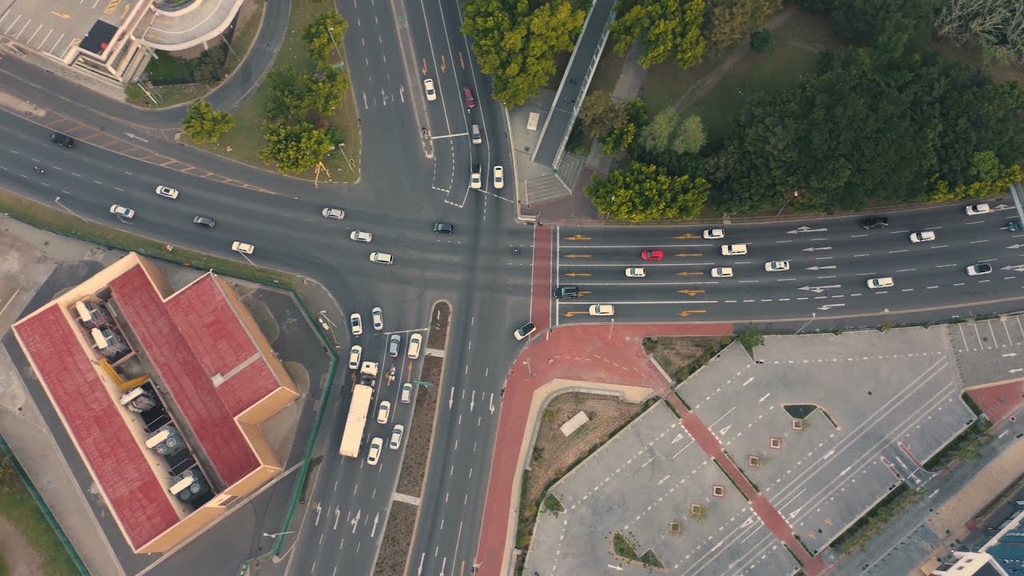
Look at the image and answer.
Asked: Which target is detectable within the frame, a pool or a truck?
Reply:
truck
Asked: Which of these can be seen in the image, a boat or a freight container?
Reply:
freight container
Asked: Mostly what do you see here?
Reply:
paved ground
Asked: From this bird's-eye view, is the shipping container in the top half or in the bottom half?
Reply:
bottom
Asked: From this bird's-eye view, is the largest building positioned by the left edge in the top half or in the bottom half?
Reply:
bottom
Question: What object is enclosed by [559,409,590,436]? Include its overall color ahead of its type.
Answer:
white shipping container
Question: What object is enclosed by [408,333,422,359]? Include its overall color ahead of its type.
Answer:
white vehicle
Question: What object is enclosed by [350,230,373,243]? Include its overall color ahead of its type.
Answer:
white vehicle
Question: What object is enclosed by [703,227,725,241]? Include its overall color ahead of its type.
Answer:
white car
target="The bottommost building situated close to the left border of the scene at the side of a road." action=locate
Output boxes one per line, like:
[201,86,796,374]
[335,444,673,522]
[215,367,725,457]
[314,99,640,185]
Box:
[12,253,298,554]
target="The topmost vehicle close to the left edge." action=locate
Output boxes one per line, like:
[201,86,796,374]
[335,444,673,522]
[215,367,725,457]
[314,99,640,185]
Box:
[47,133,76,150]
